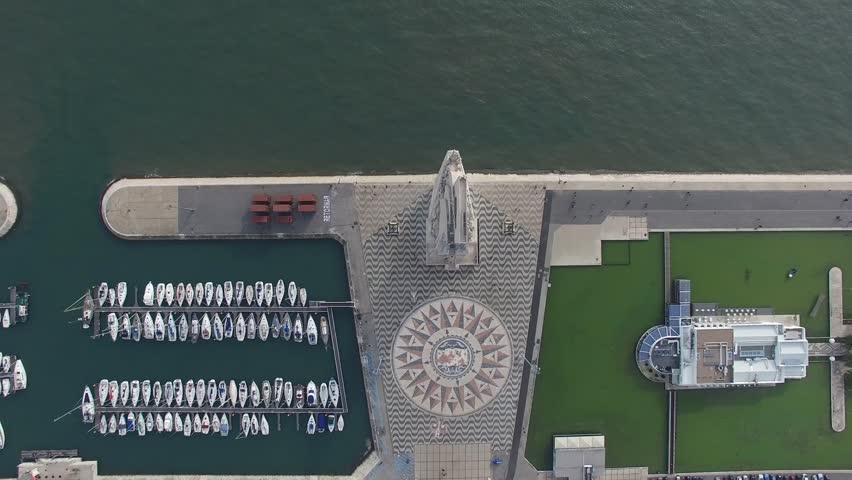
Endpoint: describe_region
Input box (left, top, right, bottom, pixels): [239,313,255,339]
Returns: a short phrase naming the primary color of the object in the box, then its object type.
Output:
gray boat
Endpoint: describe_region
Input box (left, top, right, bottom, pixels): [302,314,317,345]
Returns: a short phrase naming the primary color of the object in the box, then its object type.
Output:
white boat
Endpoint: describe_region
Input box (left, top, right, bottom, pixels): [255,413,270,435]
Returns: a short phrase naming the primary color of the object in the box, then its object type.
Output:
white boat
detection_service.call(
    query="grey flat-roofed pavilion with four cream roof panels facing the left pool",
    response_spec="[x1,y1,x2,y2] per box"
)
[551,435,607,480]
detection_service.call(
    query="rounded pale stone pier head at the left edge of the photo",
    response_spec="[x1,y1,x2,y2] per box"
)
[0,181,22,237]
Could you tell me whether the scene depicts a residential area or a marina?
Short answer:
marina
